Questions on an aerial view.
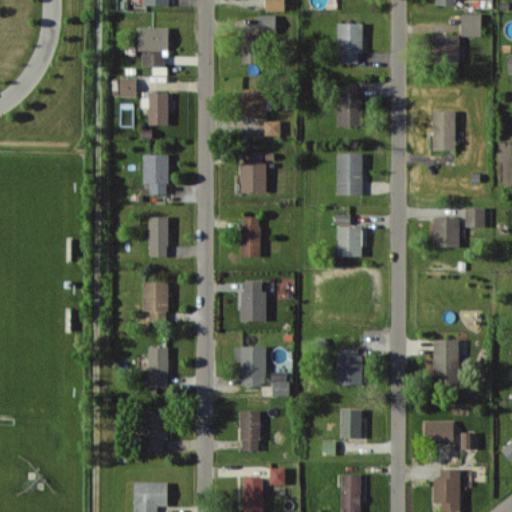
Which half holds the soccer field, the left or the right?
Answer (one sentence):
It is on the left.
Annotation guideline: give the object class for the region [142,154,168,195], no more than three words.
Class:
house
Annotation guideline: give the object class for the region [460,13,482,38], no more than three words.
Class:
building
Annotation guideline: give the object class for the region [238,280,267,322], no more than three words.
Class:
house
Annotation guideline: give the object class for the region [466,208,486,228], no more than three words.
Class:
building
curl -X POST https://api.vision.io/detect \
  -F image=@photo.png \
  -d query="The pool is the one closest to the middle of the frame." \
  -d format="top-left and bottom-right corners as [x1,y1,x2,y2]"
[272,348,289,364]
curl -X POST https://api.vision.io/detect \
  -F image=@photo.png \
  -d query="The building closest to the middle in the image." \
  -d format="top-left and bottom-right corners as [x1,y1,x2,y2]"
[240,216,262,258]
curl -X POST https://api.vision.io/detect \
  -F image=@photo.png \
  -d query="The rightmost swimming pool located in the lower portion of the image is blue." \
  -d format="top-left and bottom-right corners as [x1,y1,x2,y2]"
[444,311,459,325]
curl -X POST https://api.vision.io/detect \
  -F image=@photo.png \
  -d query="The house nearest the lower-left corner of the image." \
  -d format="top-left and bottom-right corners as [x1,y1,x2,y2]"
[133,482,168,512]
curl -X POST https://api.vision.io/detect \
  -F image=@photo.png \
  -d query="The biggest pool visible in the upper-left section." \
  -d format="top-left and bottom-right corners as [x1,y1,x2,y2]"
[120,103,134,128]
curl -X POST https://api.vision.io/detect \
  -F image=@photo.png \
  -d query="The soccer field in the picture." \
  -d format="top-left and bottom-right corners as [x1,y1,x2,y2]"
[0,154,82,512]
